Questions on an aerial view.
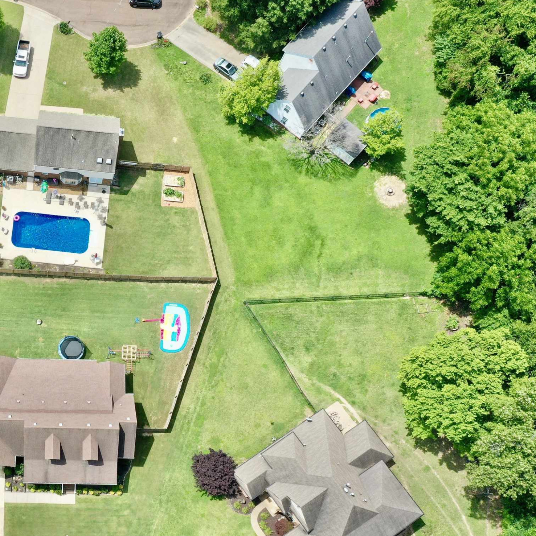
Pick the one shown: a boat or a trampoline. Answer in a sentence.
The one in the frame is a trampoline.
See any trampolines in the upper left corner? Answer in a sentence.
No, looking in the upper left corner, there is no trampoline.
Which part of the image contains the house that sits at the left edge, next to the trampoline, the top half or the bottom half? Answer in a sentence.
Seen from above, the house that sits at the left edge, next to the trampoline lies in the bottom half of the view.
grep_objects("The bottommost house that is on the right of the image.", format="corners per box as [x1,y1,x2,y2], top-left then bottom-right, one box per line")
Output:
[234,409,424,536]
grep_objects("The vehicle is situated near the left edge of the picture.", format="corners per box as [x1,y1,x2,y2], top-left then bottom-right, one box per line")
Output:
[15,37,31,79]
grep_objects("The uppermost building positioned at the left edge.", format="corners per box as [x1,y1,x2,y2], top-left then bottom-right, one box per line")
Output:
[0,111,124,188]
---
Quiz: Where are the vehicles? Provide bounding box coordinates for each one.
[129,0,162,11]
[15,37,31,79]
[241,53,268,71]
[213,58,237,77]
